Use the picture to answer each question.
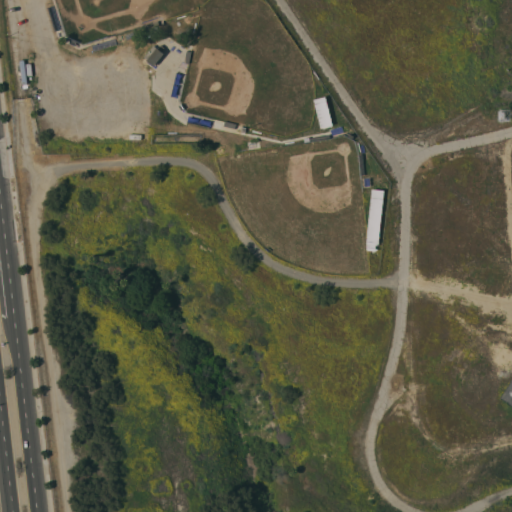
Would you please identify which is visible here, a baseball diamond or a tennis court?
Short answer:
baseball diamond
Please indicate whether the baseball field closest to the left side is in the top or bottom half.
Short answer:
top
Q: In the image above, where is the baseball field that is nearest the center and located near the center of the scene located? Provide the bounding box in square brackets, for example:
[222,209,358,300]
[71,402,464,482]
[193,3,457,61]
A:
[217,134,370,274]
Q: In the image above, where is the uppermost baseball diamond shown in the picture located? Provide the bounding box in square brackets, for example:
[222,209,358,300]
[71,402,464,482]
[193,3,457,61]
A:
[56,0,203,46]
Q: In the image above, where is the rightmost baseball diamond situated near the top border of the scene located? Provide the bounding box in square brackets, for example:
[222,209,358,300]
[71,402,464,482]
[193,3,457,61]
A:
[184,0,315,139]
